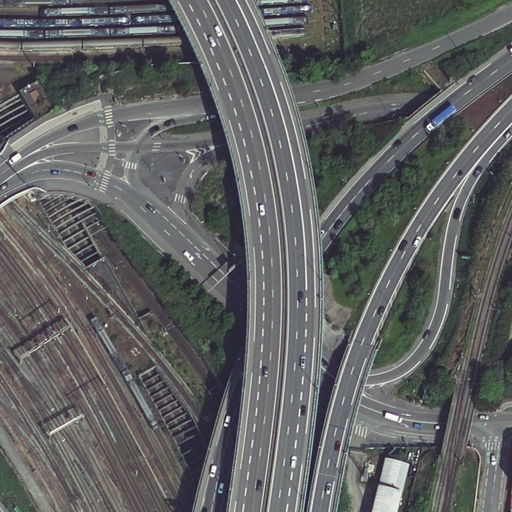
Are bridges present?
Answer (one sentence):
Yes, I can see a bridge in this picture.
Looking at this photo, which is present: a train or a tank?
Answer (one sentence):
The image shows a train.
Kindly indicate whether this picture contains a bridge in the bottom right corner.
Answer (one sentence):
Yes, a bridge is visible in the bottom right corner.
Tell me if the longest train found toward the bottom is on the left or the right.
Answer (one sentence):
You can find the longest train found toward the bottom on the left side of the picture.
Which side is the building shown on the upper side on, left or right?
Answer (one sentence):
The building shown on the upper side sits on the left side.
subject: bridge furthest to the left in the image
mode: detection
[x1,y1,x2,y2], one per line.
[170,0,322,512]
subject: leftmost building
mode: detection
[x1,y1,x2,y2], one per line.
[20,81,44,118]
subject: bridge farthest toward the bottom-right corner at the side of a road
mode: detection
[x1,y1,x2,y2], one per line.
[437,366,480,474]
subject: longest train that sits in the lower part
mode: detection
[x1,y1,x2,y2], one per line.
[90,316,160,427]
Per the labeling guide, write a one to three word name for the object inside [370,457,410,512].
building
